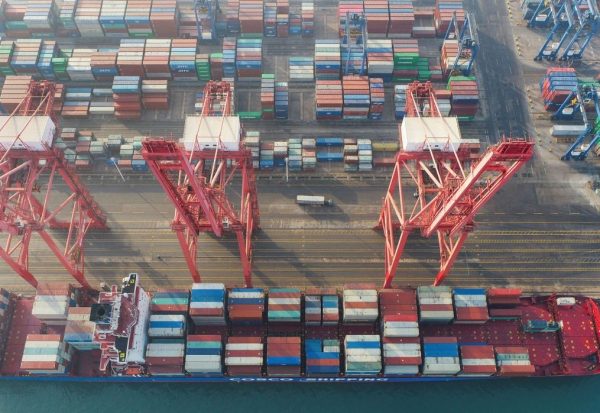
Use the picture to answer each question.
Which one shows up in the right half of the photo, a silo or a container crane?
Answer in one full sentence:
You can see a container crane in the right half of the photo.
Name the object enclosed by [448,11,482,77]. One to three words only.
container crane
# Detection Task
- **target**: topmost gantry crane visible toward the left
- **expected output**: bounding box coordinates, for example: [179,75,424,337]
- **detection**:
[197,0,226,40]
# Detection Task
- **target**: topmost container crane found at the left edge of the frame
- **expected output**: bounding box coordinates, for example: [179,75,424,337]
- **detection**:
[0,77,114,292]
